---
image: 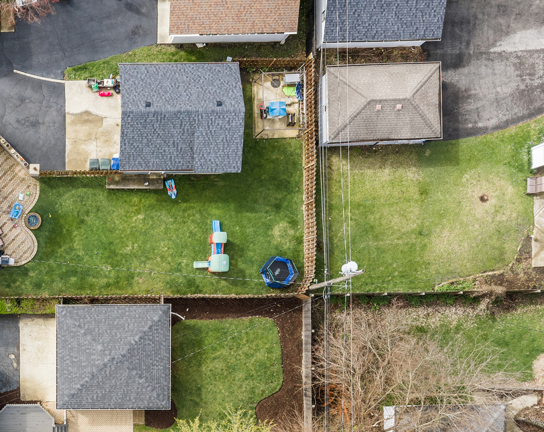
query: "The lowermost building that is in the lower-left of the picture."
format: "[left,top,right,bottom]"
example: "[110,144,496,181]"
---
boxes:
[56,304,172,410]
